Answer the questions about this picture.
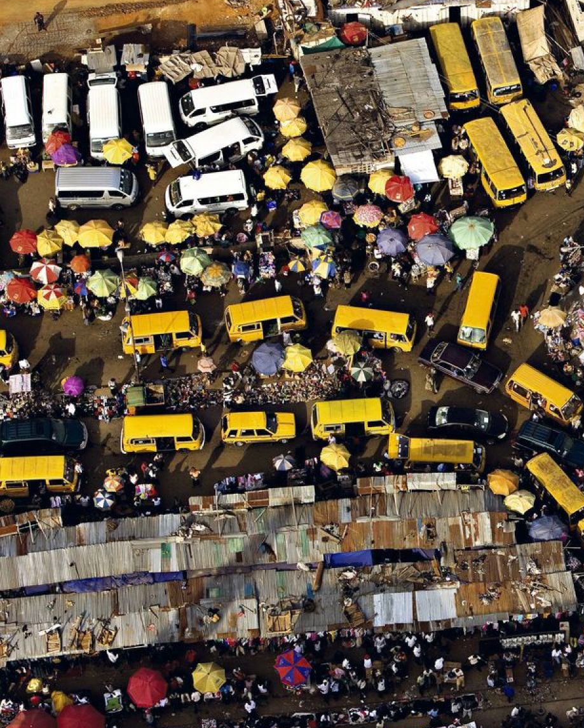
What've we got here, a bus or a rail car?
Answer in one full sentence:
I can see a bus in this picture.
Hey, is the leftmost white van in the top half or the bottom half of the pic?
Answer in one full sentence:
The leftmost white van is in the top half of the image.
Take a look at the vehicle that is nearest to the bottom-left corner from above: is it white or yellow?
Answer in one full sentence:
The vehicle that is nearest to the bottom-left corner looks yellow in the image.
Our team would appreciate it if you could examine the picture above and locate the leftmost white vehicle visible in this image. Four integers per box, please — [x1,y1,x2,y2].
[0,74,40,160]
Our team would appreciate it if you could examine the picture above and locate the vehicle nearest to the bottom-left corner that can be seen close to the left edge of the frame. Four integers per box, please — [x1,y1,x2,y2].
[0,456,84,499]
